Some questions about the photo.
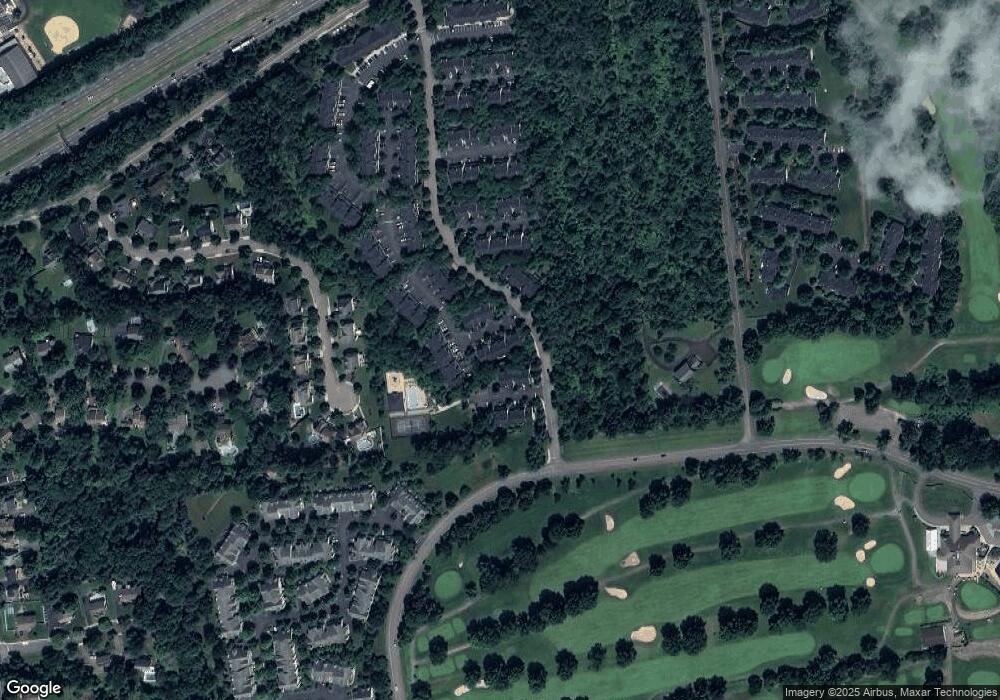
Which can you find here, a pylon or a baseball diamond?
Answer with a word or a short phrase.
baseball diamond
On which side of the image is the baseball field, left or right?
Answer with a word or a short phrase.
left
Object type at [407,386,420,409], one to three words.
swimming pool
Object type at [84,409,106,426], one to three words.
house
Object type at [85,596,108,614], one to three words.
house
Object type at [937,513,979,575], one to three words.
building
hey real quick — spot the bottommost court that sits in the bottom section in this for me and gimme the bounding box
[391,414,430,437]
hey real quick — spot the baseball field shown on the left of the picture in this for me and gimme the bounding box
[44,16,79,56]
